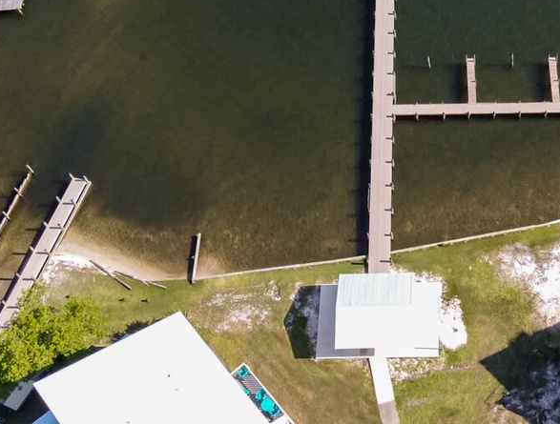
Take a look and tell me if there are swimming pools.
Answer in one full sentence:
No, the scene contains no swimming pool.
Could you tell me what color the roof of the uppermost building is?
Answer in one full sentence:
From above, the roof of the uppermost building looks white.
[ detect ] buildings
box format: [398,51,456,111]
[330,273,413,361]
[33,311,297,424]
